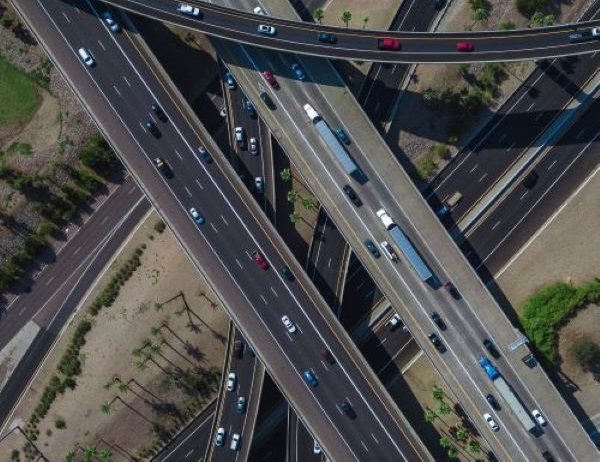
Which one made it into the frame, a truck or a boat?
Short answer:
truck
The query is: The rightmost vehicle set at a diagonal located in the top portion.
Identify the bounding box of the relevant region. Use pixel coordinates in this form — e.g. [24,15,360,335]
[523,172,539,188]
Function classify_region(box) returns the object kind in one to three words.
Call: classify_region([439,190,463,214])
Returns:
truck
